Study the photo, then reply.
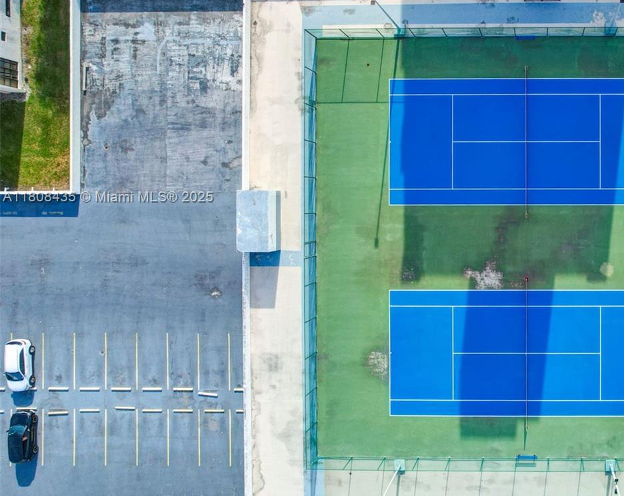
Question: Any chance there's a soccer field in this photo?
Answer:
No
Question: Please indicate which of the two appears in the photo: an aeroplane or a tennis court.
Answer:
tennis court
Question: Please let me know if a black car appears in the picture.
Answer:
Yes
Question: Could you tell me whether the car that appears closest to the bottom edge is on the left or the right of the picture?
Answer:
left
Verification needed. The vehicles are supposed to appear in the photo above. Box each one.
[3,340,34,391]
[6,411,38,463]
